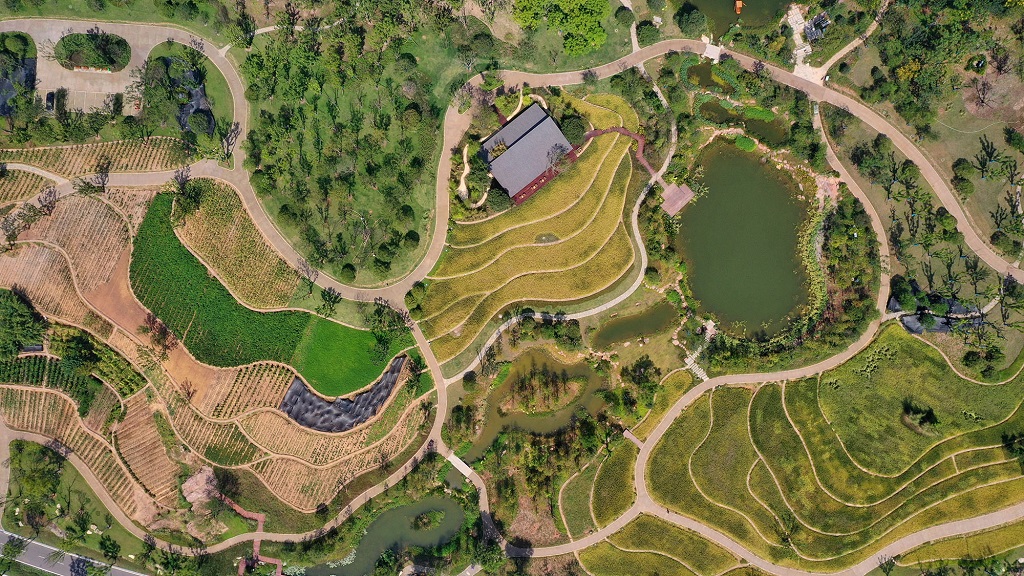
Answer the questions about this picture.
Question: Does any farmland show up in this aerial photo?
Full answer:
Yes, some farmland is visible.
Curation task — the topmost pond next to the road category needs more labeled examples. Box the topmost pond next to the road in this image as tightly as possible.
[693,0,792,46]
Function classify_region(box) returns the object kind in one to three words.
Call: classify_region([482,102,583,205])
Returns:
building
